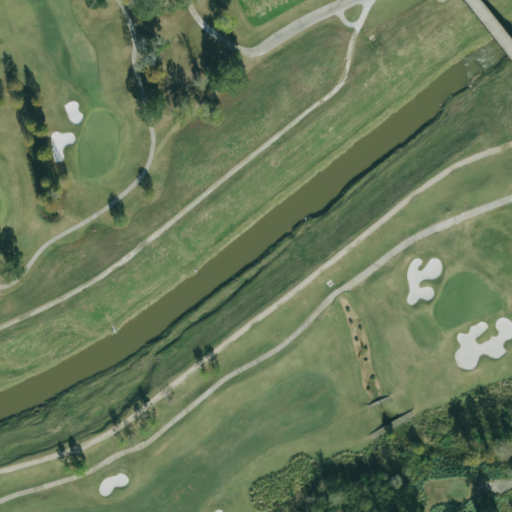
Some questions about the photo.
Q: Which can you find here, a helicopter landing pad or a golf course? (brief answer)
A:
golf course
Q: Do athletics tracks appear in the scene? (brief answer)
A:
No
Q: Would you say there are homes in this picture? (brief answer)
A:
No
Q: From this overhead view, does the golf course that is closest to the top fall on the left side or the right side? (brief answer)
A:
left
